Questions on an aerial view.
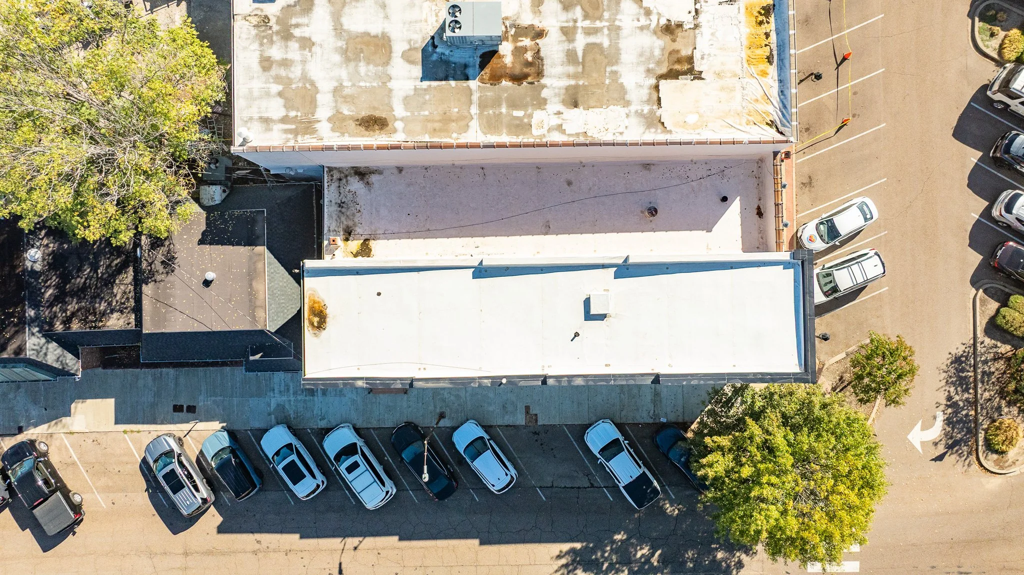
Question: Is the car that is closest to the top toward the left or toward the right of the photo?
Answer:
right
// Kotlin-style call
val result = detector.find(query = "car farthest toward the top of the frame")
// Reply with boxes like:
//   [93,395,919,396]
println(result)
[980,62,1024,122]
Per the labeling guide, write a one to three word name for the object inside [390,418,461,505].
car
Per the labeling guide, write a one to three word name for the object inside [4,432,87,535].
truck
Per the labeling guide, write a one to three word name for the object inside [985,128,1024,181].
car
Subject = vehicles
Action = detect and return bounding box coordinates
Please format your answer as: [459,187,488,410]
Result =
[4,432,87,535]
[323,422,398,513]
[452,416,520,497]
[980,62,1024,122]
[390,418,461,505]
[792,192,881,253]
[262,424,329,503]
[585,417,663,512]
[986,190,1024,240]
[146,431,217,518]
[985,128,1024,181]
[984,241,1024,293]
[814,247,888,304]
[199,425,266,506]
